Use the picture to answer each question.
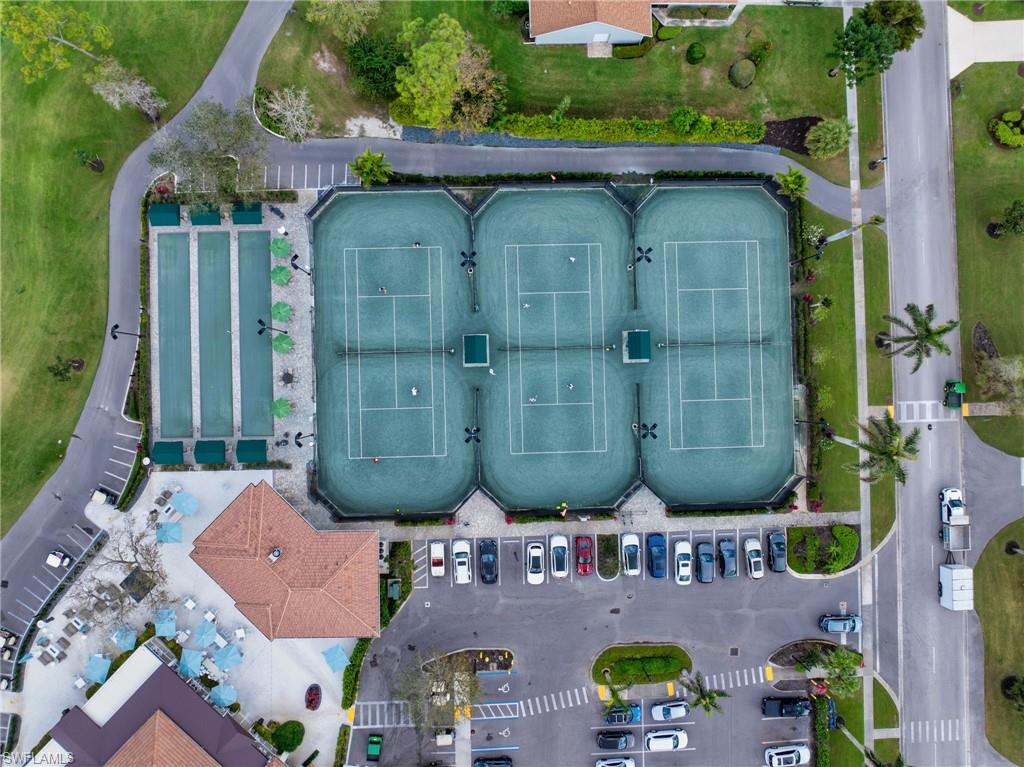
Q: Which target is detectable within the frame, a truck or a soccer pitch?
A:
truck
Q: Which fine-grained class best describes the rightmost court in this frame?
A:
tennis court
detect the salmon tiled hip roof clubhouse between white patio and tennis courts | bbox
[188,479,381,642]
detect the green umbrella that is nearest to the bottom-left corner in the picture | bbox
[271,397,293,419]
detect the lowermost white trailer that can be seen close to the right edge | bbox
[938,552,974,613]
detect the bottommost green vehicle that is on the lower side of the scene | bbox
[367,733,384,762]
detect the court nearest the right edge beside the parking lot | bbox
[633,185,796,508]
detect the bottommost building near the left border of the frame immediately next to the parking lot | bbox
[23,643,285,767]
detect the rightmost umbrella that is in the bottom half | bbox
[320,641,352,673]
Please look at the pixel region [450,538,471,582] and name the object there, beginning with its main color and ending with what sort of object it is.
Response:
white car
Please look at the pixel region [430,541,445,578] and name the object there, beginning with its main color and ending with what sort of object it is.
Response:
white car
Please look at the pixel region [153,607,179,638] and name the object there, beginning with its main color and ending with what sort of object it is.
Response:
blue umbrella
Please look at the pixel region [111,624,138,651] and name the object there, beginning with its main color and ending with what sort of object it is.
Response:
blue umbrella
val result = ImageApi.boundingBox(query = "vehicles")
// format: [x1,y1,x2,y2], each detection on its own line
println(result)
[716,538,737,578]
[548,534,569,577]
[741,537,763,579]
[817,612,861,634]
[474,752,514,767]
[478,538,498,582]
[575,536,595,575]
[602,701,642,724]
[430,541,445,578]
[649,696,689,721]
[595,752,636,767]
[621,532,642,576]
[937,488,970,552]
[643,726,687,751]
[765,742,809,766]
[765,531,787,572]
[673,540,693,584]
[941,382,964,408]
[761,695,811,720]
[0,676,11,691]
[596,727,634,750]
[42,551,72,568]
[450,538,471,582]
[0,633,20,651]
[524,542,545,584]
[694,542,716,583]
[0,647,13,662]
[646,532,668,578]
[433,729,457,748]
[367,733,384,762]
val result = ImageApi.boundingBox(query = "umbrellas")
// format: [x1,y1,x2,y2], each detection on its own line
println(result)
[176,647,205,678]
[193,619,220,650]
[271,397,293,419]
[210,683,238,708]
[271,265,293,286]
[157,522,182,543]
[271,300,293,322]
[111,624,138,651]
[153,607,179,638]
[3,656,27,671]
[271,236,293,258]
[83,653,115,684]
[214,642,243,671]
[320,641,352,673]
[271,333,293,354]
